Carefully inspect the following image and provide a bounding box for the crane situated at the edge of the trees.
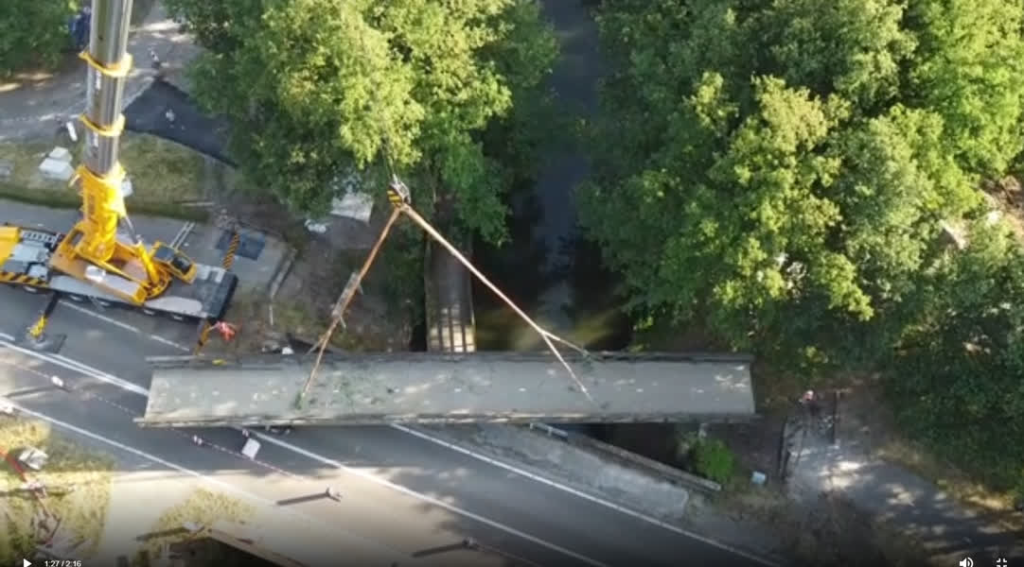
[0,0,264,358]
